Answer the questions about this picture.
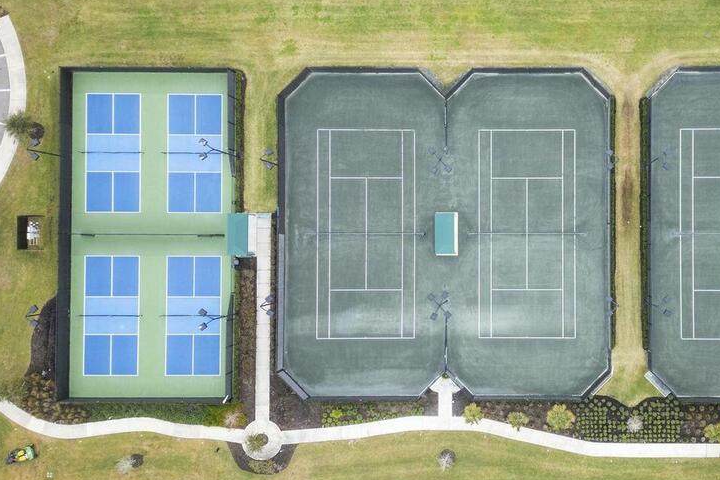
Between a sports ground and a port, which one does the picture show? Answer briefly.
sports ground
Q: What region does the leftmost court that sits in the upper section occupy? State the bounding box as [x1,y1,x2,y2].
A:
[70,71,154,234]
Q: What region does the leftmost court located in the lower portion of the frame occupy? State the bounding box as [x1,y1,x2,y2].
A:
[68,235,154,398]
